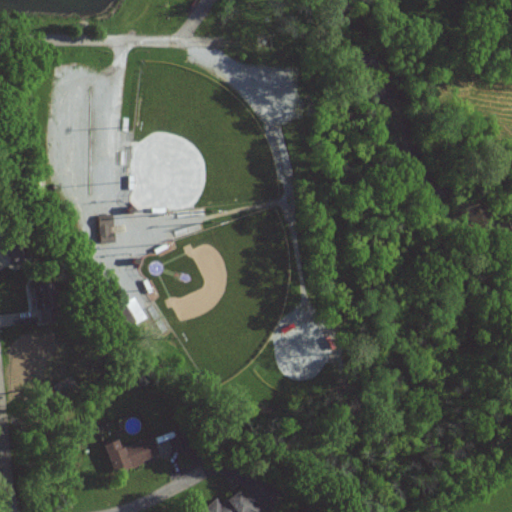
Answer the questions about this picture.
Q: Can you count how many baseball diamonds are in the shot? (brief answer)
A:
2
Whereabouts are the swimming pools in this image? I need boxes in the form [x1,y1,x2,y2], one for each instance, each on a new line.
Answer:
[124,418,141,434]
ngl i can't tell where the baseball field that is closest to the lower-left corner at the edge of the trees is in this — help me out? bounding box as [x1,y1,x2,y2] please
[138,205,290,384]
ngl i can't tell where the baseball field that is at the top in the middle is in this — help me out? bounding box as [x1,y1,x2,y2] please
[130,60,284,210]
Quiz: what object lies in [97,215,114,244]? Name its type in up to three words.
building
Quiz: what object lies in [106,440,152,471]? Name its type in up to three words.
house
